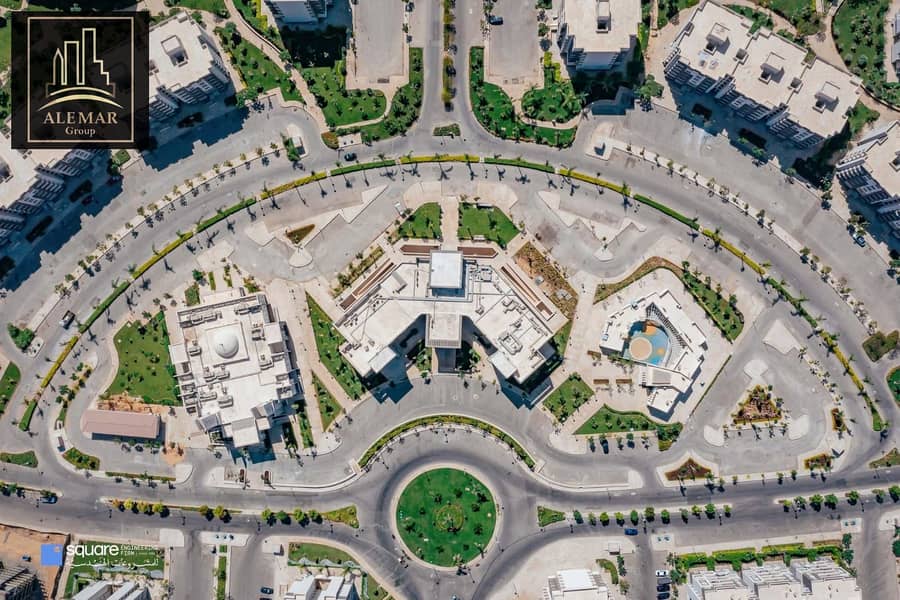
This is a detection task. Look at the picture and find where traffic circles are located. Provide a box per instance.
[390,459,503,575]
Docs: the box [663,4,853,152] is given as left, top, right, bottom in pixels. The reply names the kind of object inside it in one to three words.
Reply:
building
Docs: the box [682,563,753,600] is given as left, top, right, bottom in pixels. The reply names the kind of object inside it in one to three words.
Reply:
house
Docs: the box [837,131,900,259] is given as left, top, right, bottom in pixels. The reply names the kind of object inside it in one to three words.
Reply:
building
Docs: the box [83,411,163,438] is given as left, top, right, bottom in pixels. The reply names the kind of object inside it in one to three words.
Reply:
shed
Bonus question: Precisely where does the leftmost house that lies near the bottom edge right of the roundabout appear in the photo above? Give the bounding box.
[545,560,607,600]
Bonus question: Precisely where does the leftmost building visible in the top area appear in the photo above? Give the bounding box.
[0,99,112,250]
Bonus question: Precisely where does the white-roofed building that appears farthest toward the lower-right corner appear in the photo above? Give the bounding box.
[787,553,857,600]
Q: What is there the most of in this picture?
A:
paved ground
